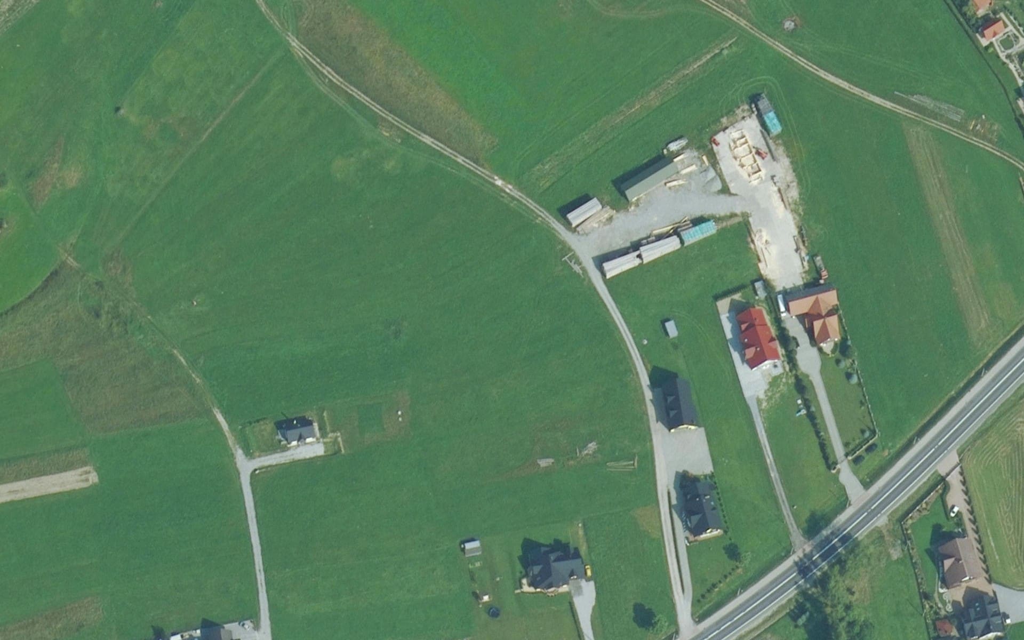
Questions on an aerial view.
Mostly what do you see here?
grass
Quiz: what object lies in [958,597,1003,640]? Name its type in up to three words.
house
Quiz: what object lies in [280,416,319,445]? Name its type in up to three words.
house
